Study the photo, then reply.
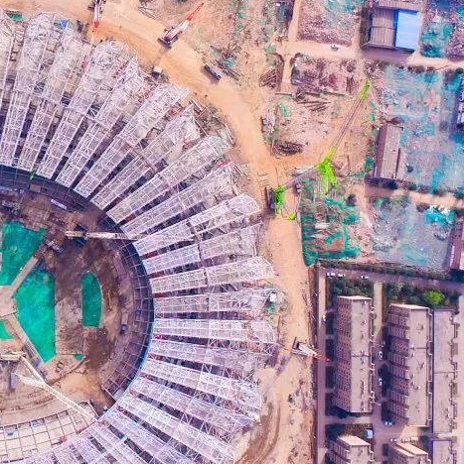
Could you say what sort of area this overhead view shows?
sports ground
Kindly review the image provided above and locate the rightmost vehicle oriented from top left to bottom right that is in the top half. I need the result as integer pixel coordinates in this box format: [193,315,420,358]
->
[205,63,224,80]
